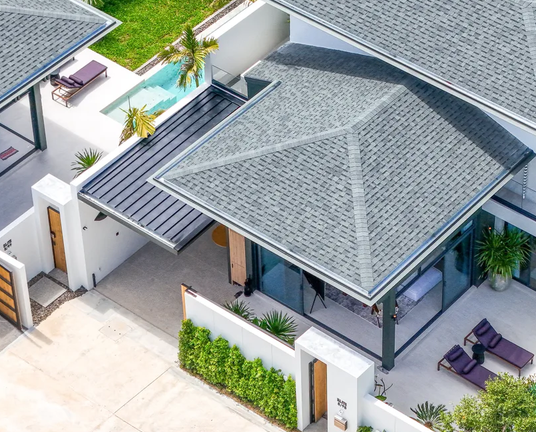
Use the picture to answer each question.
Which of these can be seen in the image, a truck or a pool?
pool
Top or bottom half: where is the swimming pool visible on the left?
top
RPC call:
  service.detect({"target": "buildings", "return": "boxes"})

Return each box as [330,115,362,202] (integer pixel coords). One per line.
[80,0,536,372]
[0,0,122,181]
